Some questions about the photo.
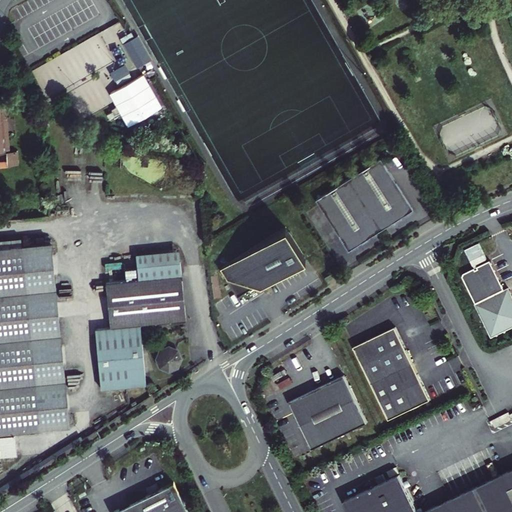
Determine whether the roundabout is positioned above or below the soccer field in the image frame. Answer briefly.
below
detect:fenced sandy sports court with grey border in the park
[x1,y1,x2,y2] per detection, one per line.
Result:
[432,98,508,159]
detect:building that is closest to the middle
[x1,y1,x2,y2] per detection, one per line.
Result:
[220,238,310,292]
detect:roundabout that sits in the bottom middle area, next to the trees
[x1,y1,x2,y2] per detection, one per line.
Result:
[188,394,248,470]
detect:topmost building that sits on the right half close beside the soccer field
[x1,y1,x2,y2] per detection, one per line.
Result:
[317,161,414,252]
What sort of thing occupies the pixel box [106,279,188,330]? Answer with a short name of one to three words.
building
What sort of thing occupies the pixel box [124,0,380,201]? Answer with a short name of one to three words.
soccer field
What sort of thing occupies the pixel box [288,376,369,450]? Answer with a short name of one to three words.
building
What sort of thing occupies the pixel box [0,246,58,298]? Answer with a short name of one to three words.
shed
